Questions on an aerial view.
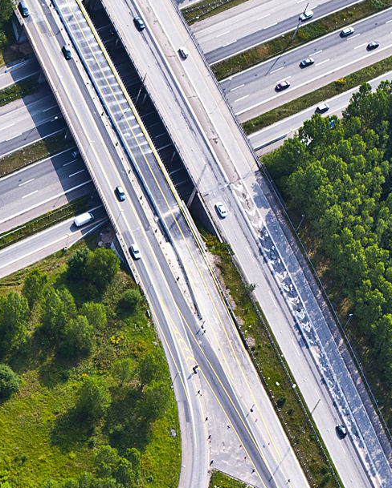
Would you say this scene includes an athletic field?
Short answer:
No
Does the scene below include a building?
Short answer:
No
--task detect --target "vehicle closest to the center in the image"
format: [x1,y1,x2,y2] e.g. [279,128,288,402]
[215,203,227,219]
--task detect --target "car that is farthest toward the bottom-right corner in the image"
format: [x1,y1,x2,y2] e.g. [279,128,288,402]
[334,422,347,441]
